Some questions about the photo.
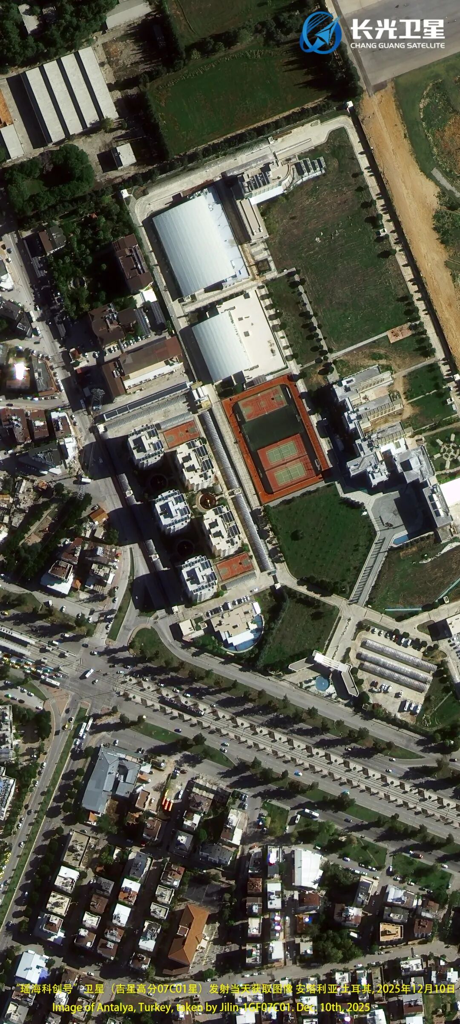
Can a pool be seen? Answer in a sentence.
Yes, I can see a pool in this picture.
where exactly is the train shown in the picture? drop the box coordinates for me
[163,694,204,713]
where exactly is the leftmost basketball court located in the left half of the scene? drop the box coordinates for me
[163,418,202,449]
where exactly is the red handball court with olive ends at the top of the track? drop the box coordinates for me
[238,386,288,421]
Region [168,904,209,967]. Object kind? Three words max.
building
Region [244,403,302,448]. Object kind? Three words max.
soccer field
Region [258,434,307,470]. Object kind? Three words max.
tennis court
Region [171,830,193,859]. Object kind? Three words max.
house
